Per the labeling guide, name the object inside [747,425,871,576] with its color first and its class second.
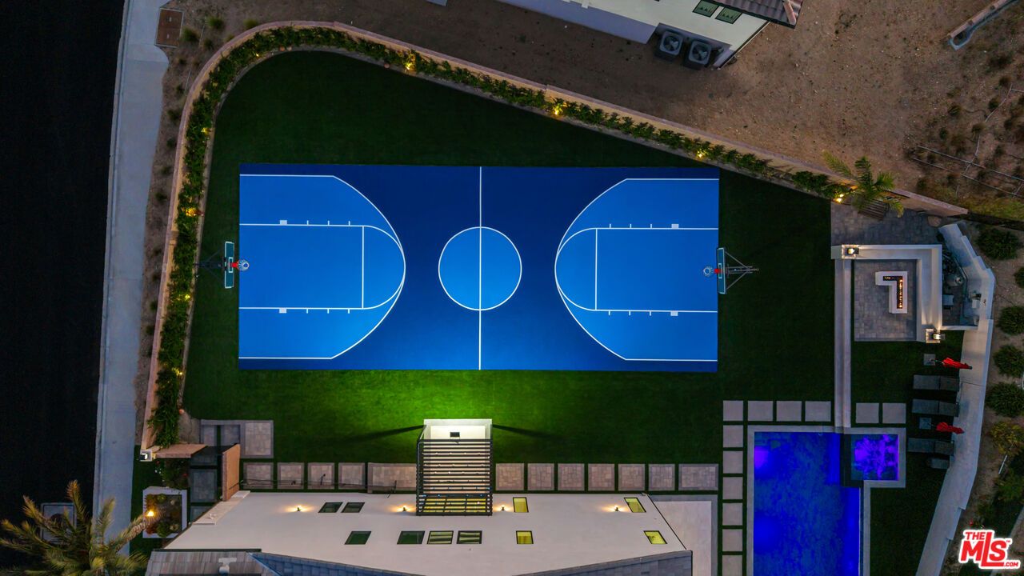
blue swimming pool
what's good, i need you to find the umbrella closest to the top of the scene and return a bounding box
[924,354,973,370]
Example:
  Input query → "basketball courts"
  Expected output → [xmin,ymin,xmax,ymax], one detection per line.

[239,164,719,372]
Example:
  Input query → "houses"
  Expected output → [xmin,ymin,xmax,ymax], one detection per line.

[494,0,803,66]
[148,489,695,576]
